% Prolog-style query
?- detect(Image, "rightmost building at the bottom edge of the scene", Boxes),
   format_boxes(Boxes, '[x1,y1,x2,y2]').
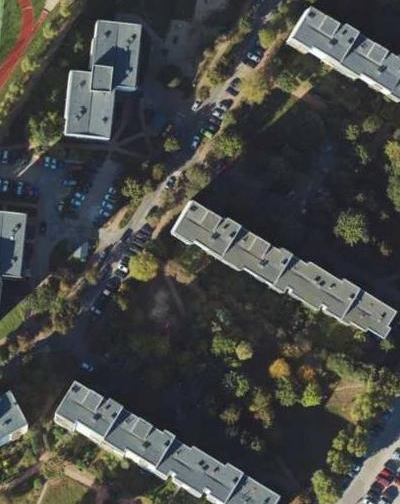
[56,382,283,504]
